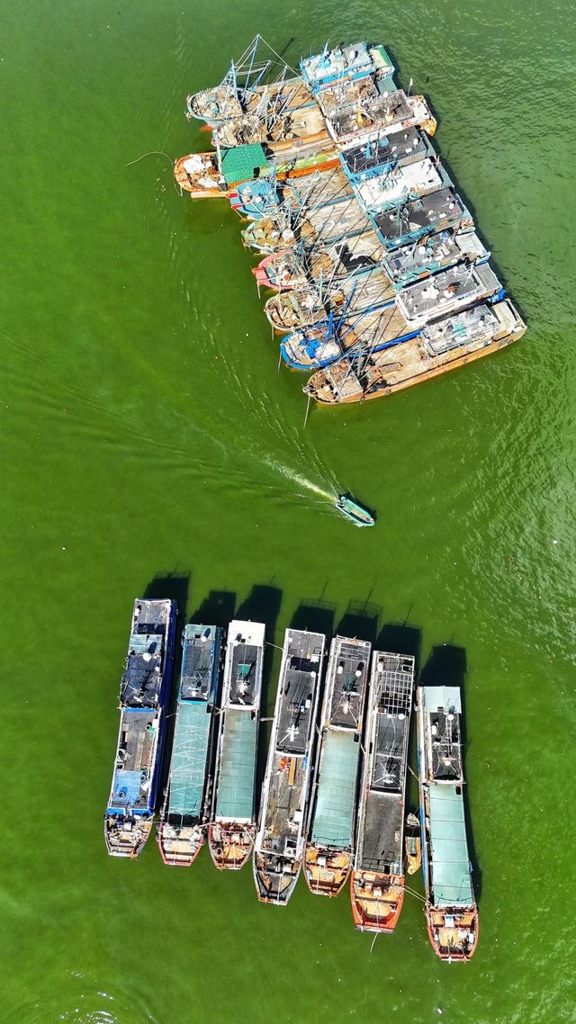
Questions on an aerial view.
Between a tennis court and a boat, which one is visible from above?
boat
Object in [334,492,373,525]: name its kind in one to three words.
boat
